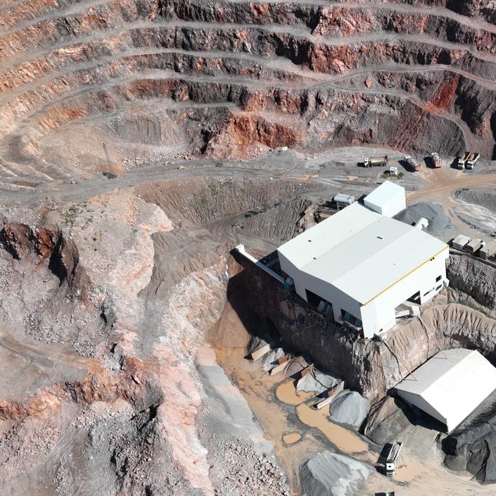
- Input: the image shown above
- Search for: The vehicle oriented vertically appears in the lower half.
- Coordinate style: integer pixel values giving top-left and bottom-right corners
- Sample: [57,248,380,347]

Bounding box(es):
[386,442,403,478]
